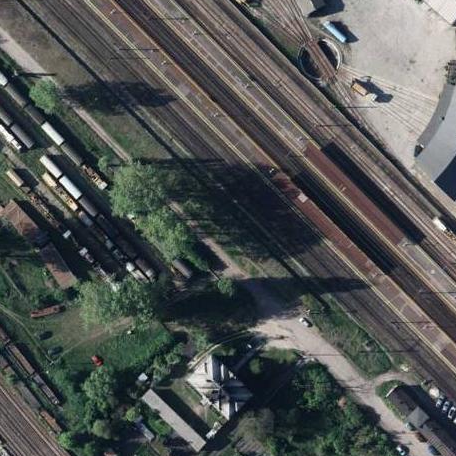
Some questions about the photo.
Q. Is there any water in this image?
No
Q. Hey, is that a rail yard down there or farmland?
rail yard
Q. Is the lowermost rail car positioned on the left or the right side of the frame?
left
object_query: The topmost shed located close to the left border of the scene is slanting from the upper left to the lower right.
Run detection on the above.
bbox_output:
[1,200,41,239]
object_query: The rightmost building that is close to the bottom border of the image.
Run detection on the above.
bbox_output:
[386,384,456,456]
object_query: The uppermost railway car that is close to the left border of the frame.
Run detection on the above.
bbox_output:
[5,84,30,109]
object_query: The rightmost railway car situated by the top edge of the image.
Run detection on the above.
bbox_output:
[323,22,348,44]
